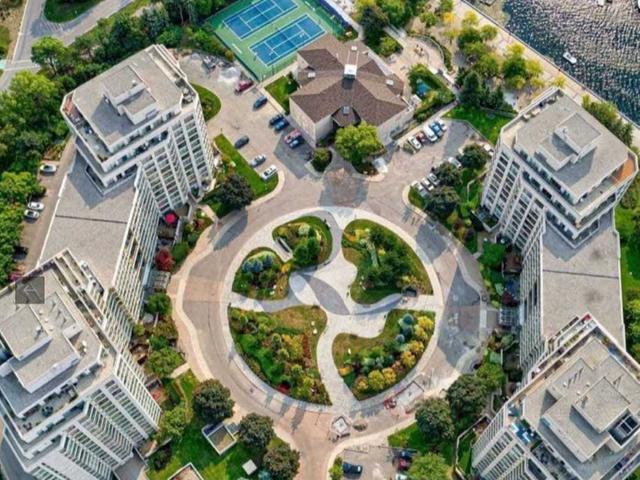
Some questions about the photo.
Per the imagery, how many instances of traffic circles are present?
1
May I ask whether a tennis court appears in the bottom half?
No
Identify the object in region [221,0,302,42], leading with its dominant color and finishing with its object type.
blue tennis court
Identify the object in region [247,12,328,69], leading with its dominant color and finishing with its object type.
blue tennis court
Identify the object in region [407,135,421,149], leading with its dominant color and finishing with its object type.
white vehicle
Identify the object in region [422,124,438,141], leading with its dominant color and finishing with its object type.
white vehicle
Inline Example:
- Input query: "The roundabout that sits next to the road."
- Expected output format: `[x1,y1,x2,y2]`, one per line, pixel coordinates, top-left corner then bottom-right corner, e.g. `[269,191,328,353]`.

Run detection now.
[219,206,445,413]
